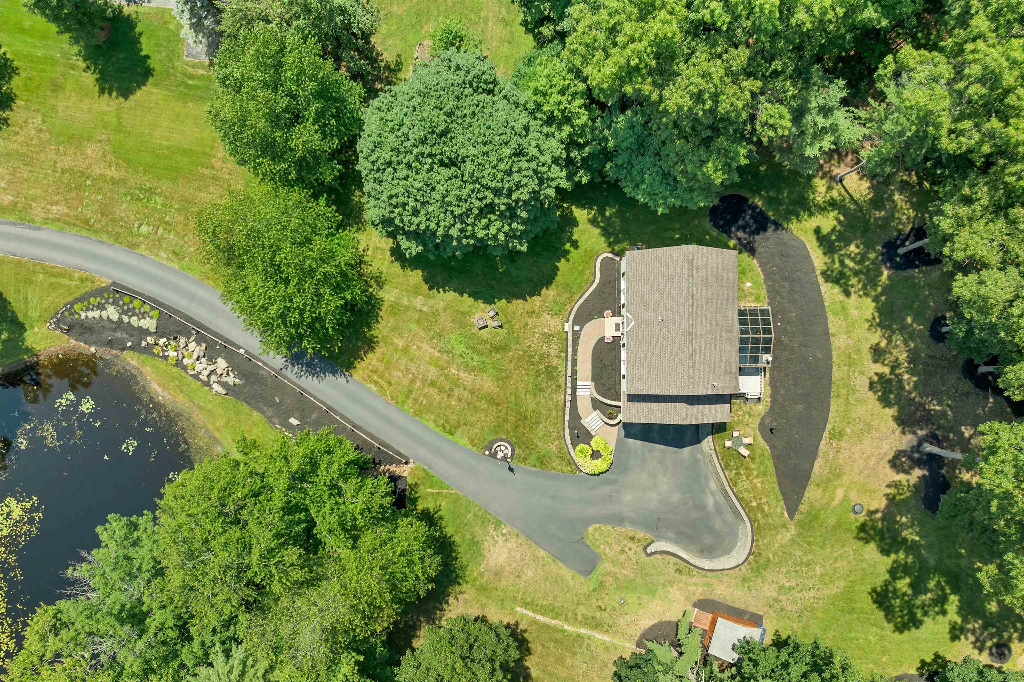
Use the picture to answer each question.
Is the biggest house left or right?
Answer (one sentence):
You can find the biggest house on the right side of the picture.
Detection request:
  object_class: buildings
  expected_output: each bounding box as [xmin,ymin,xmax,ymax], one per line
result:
[620,245,775,427]
[690,610,767,673]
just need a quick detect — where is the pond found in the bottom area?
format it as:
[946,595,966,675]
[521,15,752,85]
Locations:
[0,375,182,682]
